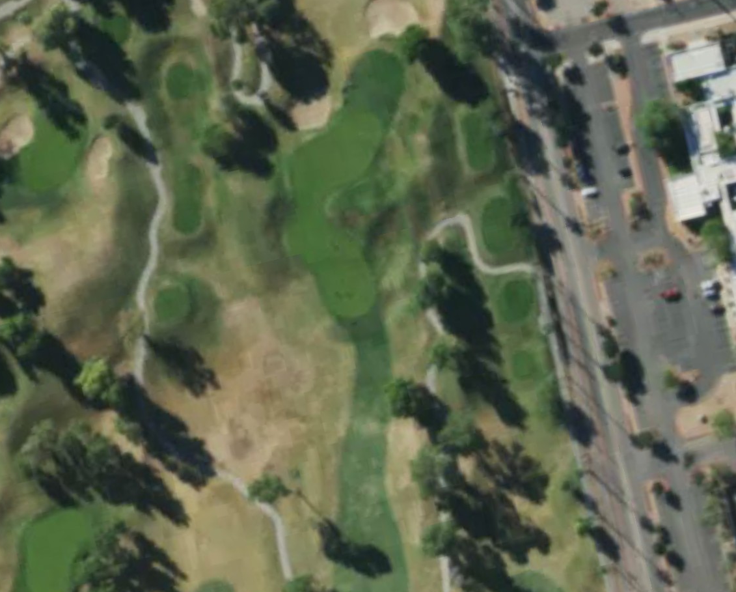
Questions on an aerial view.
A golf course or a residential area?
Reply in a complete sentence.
This image shows a golf course.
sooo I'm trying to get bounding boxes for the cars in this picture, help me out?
[580,187,596,196]
[710,304,725,312]
[698,280,715,289]
[617,168,633,177]
[615,145,631,154]
[663,290,678,298]
[700,288,717,297]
